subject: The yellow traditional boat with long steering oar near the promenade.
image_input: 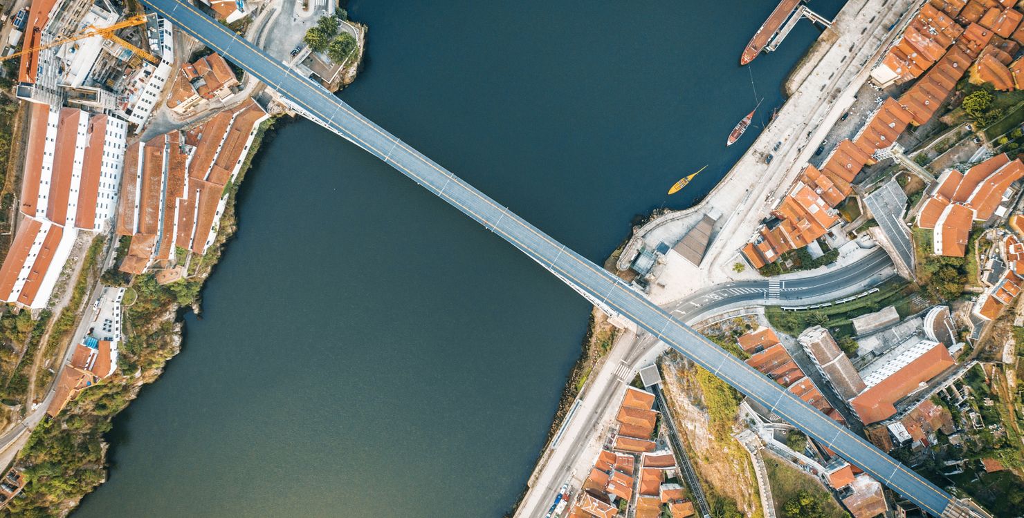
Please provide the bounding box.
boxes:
[668,166,708,194]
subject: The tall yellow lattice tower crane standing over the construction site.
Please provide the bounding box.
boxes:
[0,16,167,67]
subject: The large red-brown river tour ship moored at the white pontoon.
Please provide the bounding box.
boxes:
[742,0,801,65]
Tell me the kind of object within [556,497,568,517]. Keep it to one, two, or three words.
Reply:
vehicle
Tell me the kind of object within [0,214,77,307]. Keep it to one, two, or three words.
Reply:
building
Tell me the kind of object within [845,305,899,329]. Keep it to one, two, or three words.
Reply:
barn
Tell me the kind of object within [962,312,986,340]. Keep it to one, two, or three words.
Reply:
house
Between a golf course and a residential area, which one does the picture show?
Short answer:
residential area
